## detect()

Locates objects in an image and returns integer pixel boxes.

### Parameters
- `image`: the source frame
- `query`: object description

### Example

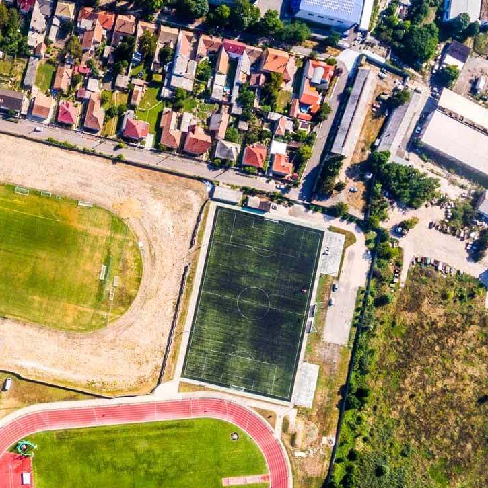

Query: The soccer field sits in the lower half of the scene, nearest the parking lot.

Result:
[181,205,324,402]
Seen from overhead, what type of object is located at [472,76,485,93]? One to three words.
vehicle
